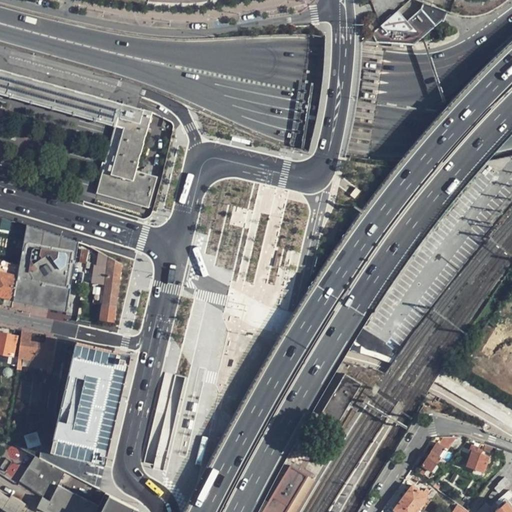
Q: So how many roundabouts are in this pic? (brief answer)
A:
zero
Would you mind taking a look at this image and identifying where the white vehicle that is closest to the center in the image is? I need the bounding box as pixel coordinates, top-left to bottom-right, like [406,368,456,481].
[193,246,208,276]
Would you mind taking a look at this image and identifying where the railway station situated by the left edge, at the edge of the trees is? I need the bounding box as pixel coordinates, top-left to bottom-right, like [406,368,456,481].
[0,70,118,130]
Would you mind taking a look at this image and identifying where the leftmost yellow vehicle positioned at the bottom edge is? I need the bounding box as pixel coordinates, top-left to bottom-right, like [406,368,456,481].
[146,480,164,496]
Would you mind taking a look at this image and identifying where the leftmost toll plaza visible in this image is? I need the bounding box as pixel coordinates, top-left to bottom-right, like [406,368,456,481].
[285,34,324,148]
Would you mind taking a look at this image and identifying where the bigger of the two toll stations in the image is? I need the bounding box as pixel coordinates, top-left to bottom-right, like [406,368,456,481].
[348,40,420,158]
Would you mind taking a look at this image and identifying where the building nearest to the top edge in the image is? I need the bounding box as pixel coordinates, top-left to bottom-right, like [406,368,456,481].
[374,4,447,45]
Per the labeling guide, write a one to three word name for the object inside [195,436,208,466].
vehicle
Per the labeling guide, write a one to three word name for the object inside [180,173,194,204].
vehicle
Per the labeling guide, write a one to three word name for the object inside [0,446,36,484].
house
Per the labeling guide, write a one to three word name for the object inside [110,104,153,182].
building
